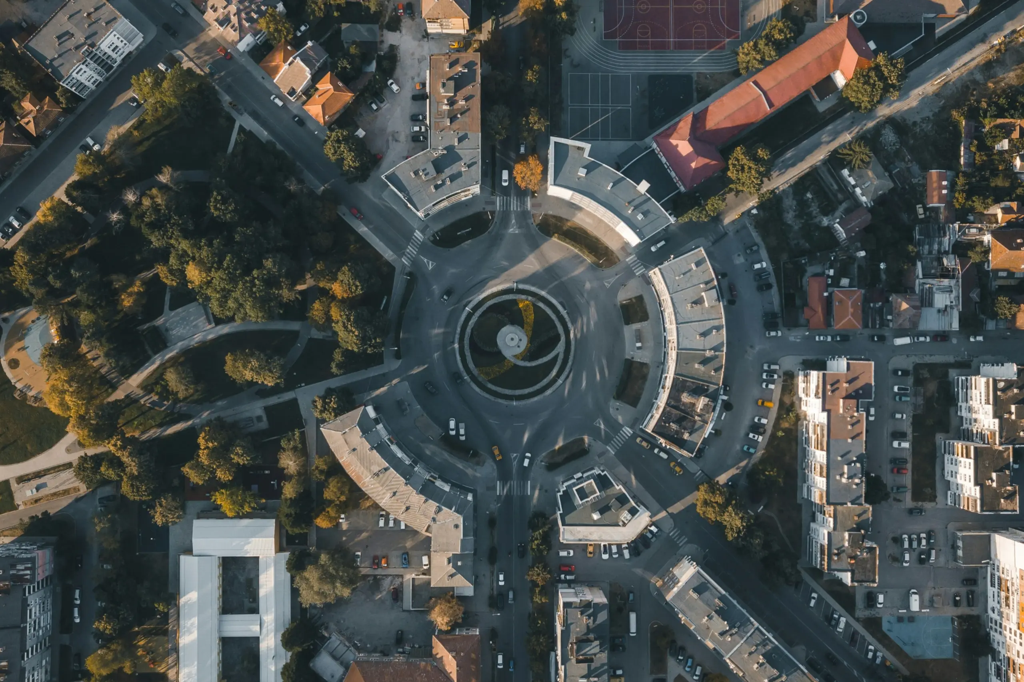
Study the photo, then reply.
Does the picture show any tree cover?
Yes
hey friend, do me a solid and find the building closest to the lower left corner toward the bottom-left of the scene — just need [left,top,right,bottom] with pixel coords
[0,542,63,682]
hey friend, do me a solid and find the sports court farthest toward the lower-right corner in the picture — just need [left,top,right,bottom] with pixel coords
[882,618,953,659]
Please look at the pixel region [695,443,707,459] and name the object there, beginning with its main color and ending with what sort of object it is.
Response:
black vehicle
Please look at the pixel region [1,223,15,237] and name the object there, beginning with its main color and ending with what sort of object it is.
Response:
black car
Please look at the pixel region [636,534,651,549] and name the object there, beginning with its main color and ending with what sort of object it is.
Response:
black car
